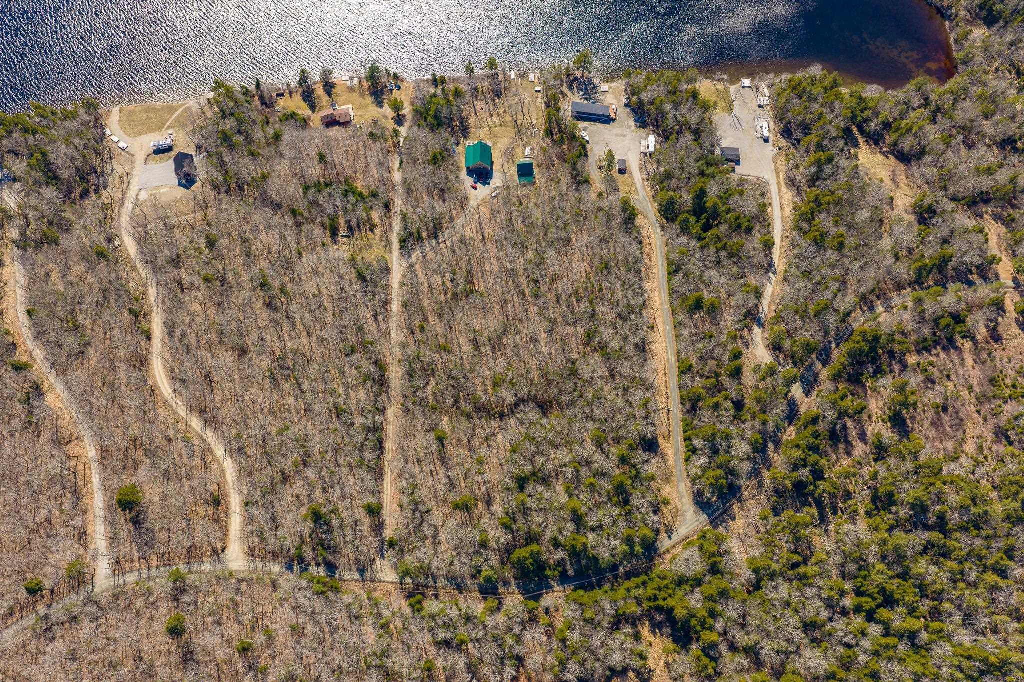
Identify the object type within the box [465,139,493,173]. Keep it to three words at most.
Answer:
house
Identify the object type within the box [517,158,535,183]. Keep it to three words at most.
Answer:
shed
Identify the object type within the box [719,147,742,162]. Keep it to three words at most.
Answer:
building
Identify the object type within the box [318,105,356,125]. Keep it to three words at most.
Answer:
building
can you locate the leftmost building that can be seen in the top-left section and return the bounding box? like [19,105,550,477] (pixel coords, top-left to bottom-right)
[173,151,196,177]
